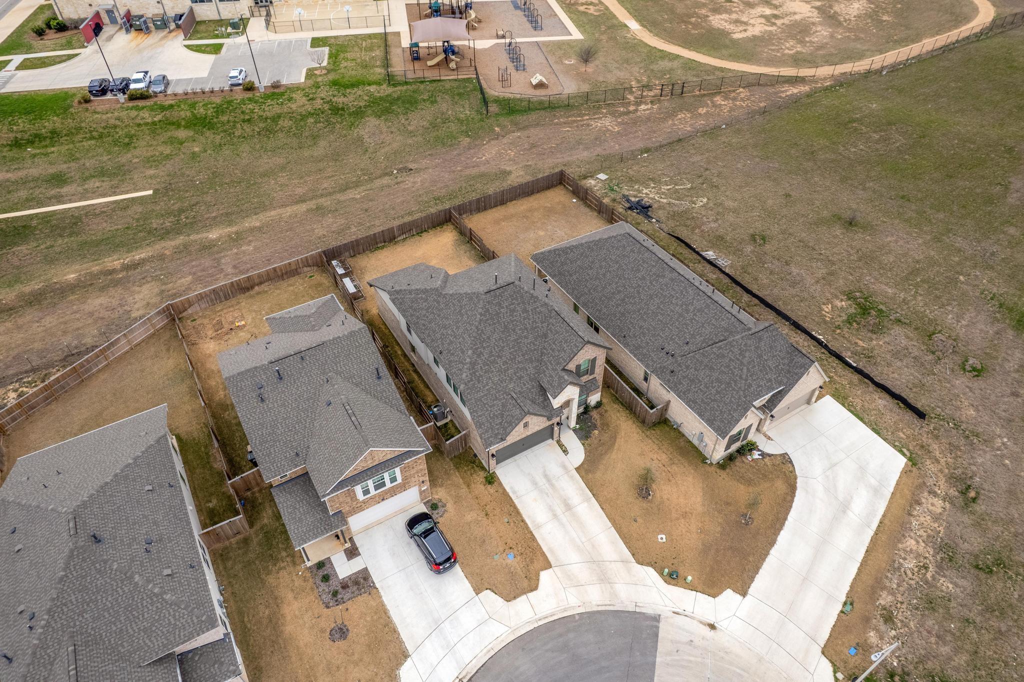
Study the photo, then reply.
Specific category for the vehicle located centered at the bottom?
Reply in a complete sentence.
It looks like the vehicle located centered at the bottom is an automobile.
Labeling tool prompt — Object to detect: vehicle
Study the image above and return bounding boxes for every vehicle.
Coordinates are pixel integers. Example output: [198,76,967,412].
[150,74,170,90]
[129,69,153,90]
[403,511,461,577]
[227,67,244,83]
[88,77,110,93]
[109,75,131,92]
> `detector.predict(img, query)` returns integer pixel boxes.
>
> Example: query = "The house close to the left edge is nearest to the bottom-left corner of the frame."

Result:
[0,404,252,682]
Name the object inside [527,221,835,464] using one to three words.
house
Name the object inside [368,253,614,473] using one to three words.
house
